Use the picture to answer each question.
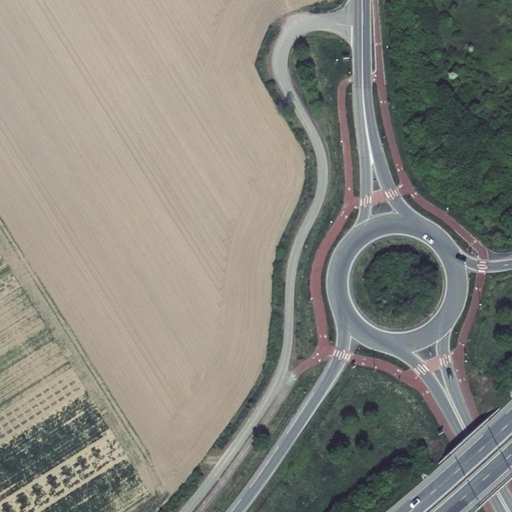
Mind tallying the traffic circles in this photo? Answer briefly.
one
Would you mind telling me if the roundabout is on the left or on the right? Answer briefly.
right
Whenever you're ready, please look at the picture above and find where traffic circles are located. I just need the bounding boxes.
[326,196,468,368]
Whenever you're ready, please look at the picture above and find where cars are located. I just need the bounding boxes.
[410,496,420,506]
[455,254,466,260]
[446,368,453,379]
[423,234,434,243]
